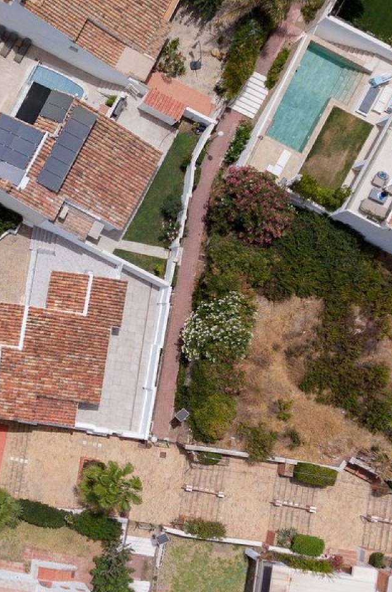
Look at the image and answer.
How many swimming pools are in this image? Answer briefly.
2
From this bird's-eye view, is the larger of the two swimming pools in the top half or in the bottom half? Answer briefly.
top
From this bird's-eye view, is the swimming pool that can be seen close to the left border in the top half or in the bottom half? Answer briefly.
top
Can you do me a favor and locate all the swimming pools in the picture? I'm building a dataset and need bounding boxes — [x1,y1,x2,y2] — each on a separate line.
[257,33,377,162]
[8,59,89,120]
